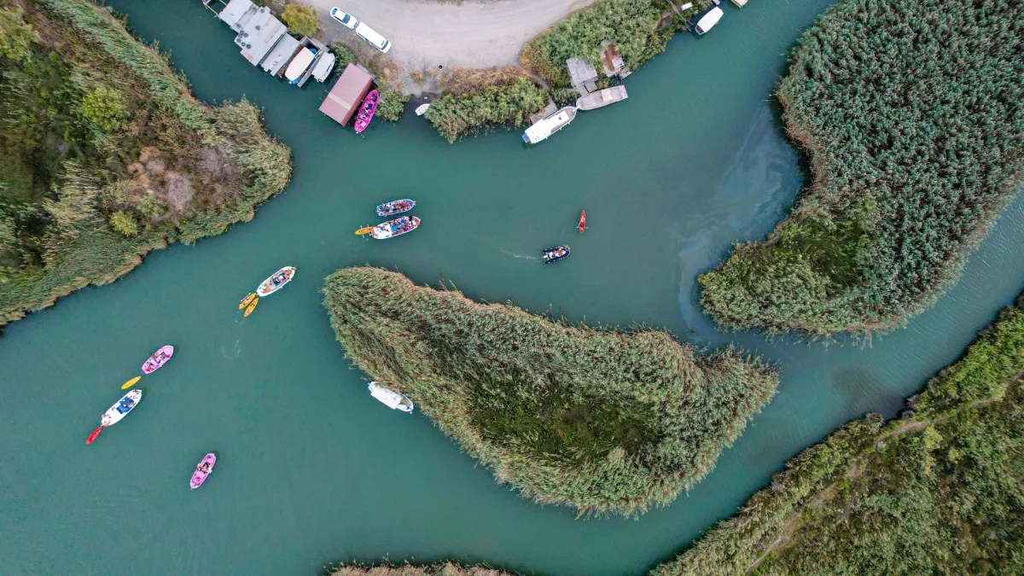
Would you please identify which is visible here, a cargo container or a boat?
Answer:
boat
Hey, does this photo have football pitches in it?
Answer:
No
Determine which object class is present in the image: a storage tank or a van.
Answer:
van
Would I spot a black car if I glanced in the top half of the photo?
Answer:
No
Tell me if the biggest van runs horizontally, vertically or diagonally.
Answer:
diagonally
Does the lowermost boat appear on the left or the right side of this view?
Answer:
left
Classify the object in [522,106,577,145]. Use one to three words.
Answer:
boat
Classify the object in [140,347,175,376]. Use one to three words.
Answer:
boat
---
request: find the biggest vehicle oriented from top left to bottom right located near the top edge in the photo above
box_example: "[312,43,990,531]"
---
[355,21,393,55]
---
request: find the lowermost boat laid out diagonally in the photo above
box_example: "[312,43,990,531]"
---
[188,454,216,490]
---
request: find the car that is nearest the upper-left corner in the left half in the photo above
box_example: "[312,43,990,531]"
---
[329,7,359,31]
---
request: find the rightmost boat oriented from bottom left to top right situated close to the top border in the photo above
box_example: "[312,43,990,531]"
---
[693,7,725,37]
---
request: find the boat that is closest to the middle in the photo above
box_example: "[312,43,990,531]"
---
[543,247,571,262]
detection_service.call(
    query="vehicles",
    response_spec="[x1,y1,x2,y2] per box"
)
[355,21,393,55]
[329,7,359,31]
